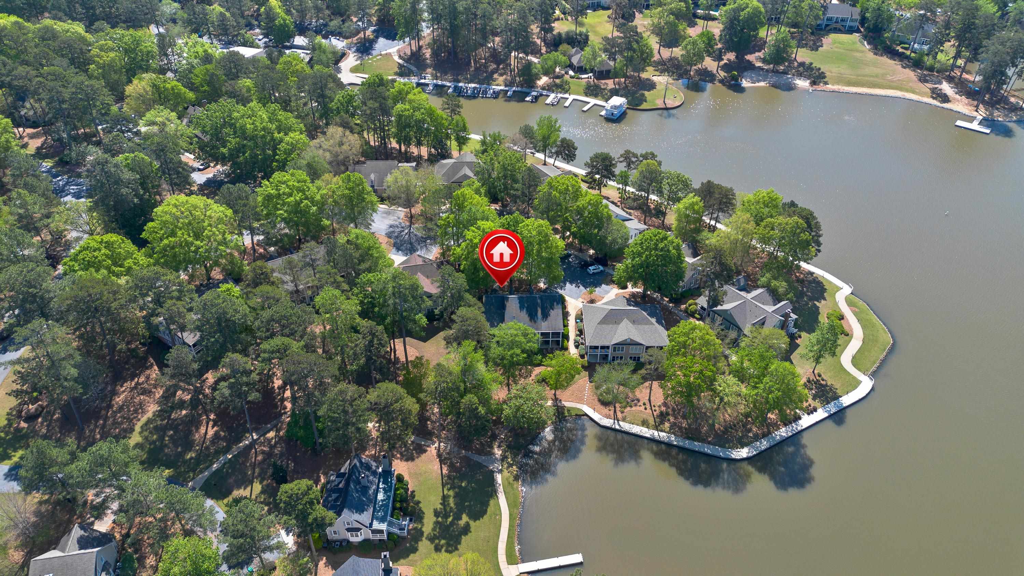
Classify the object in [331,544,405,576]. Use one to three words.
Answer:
house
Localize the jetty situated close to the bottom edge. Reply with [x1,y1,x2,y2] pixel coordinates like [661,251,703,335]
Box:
[520,551,583,575]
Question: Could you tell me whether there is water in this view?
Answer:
Yes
